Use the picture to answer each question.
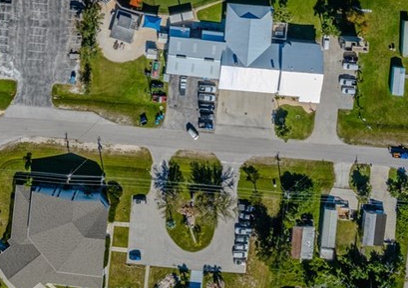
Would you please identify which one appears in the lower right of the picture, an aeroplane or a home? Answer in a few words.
home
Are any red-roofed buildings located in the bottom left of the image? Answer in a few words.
No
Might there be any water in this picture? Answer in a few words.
No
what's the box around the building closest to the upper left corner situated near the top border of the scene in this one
[109,9,141,44]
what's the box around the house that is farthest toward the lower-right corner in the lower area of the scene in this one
[360,209,387,246]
